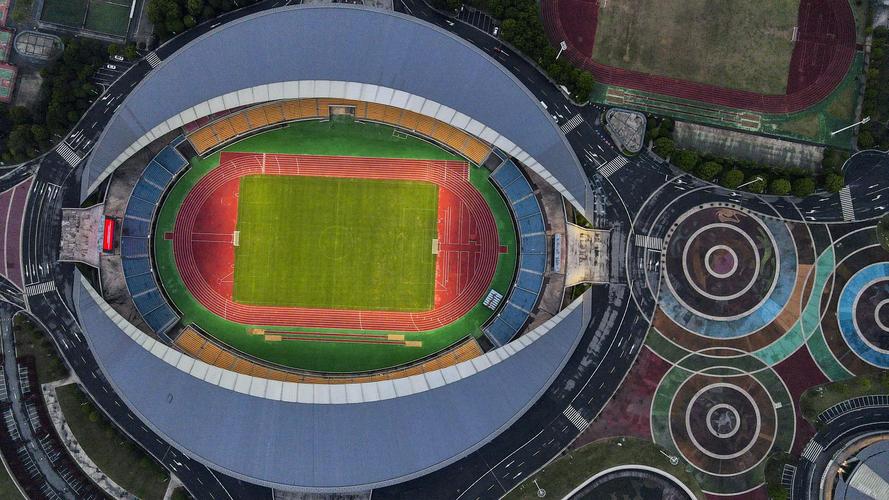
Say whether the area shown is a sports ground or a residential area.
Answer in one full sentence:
This looks like a sports ground.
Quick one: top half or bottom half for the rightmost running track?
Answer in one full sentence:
It is in the top half that the rightmost running track appears.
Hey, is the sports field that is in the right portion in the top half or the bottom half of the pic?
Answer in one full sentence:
It is in the top half that the sports field that is in the right portion appears.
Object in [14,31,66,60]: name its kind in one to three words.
sports court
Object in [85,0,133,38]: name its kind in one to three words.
soccer field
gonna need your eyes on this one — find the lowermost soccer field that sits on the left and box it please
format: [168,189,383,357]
[234,176,438,311]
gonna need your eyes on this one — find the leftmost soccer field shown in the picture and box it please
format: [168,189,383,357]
[41,0,88,30]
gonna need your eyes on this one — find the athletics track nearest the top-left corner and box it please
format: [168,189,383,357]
[158,153,508,332]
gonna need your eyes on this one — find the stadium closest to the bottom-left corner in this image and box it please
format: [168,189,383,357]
[55,0,614,500]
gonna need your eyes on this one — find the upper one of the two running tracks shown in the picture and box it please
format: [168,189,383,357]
[541,0,863,105]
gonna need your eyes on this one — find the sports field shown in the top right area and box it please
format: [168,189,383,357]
[591,0,800,95]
